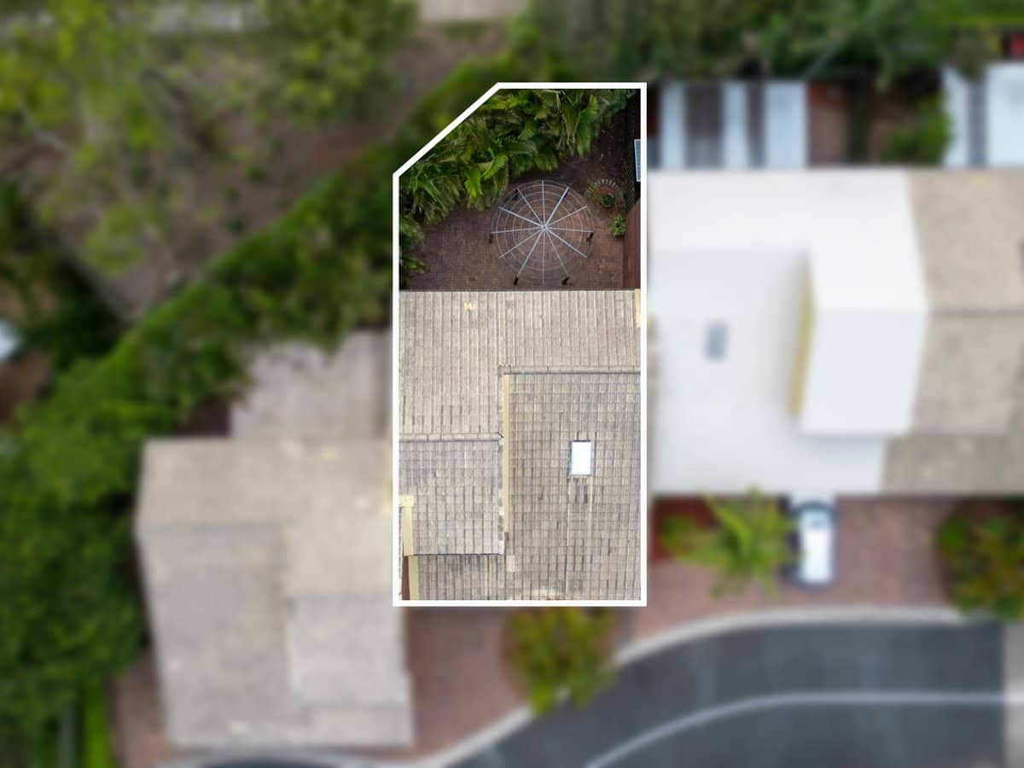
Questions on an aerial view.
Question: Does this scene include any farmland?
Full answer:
No, no farmland is visible.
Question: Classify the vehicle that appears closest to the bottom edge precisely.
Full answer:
It looks like the vehicle that appears closest to the bottom edge is a car.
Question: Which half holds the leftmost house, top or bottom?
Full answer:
You can find the leftmost house in the bottom half.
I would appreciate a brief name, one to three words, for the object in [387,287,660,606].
house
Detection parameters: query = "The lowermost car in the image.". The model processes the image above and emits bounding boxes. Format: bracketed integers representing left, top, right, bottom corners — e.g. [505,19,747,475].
[780,497,838,589]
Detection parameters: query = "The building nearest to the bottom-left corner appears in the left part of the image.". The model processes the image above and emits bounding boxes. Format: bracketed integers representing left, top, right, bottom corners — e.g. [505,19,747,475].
[129,436,420,744]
